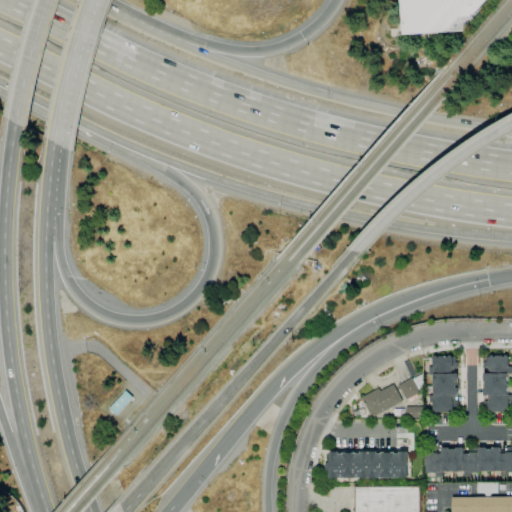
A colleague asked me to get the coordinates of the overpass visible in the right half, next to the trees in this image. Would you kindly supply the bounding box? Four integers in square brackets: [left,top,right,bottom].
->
[277,86,448,272]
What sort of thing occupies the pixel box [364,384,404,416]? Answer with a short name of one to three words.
house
